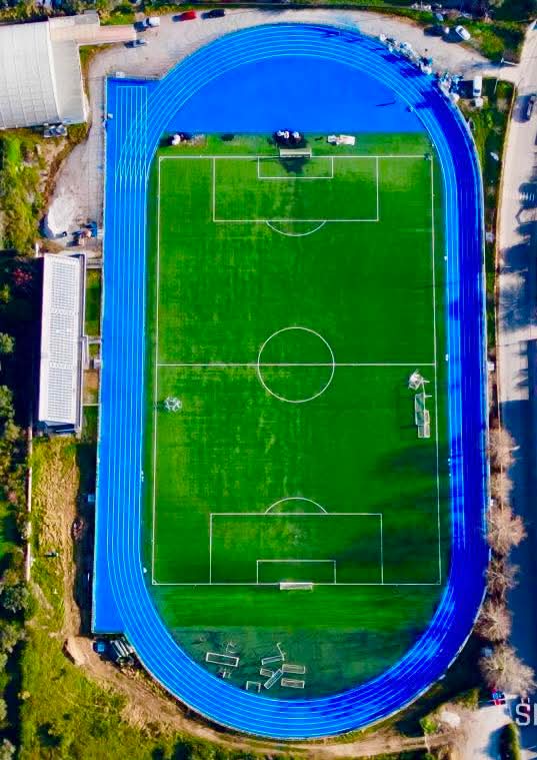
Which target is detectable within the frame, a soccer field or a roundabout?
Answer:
soccer field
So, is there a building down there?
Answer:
Yes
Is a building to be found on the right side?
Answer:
No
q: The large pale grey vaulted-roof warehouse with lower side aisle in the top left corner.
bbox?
[0,21,90,136]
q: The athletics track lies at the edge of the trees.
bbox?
[93,22,488,742]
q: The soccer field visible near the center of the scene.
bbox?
[142,133,450,702]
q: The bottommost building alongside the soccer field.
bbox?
[38,251,90,433]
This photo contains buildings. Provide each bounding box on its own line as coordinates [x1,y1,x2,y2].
[38,251,90,433]
[0,21,90,136]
